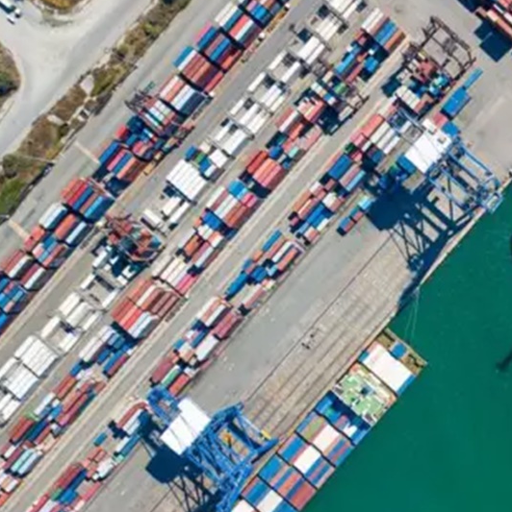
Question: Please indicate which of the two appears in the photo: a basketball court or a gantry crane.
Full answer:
It is a gantry crane that can be seen here.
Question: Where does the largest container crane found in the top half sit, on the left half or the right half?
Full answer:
The largest container crane found in the top half sits on the right side.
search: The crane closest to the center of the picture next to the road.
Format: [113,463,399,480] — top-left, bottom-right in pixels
[100,210,174,268]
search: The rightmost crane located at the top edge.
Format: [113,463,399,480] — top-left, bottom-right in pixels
[409,19,479,90]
